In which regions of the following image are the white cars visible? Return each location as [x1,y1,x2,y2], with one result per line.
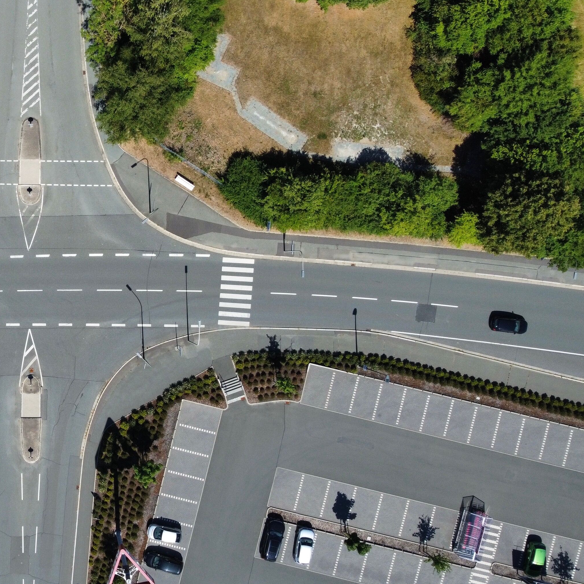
[294,524,317,565]
[147,524,184,546]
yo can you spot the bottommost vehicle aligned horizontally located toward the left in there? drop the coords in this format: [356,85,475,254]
[143,553,185,576]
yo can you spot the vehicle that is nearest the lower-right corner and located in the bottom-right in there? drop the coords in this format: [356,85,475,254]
[519,541,545,576]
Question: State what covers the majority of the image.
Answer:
paved ground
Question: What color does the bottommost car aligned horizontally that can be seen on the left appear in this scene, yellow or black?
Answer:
black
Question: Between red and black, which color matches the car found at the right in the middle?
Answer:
black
